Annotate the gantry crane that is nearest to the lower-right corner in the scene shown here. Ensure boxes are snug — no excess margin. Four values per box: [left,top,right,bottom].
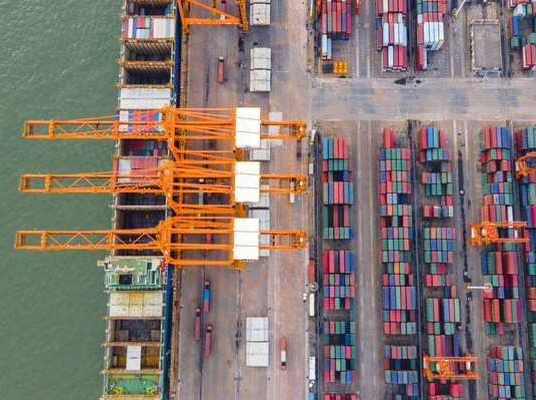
[419,349,479,379]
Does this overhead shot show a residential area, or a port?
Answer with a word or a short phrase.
port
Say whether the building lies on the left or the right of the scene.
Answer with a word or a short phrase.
right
